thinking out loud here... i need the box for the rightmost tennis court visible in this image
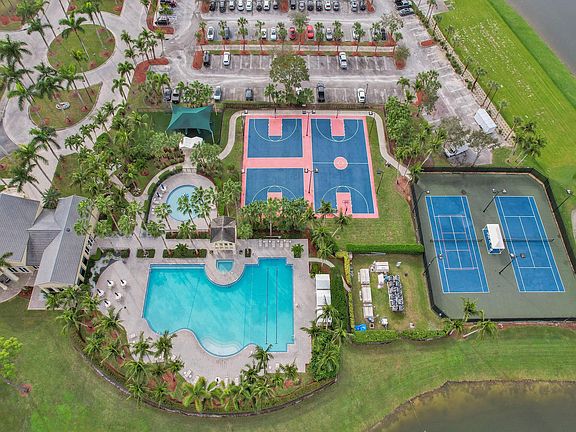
[474,173,576,321]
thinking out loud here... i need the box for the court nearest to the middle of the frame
[240,163,309,218]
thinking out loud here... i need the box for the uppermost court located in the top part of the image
[242,115,308,163]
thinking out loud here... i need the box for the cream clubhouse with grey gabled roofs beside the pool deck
[0,194,99,294]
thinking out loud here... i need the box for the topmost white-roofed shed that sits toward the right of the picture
[470,109,498,137]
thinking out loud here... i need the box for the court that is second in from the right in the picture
[414,173,511,320]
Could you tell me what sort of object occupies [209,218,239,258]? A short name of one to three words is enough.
gazebo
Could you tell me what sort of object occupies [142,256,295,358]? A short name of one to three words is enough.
swimming pool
